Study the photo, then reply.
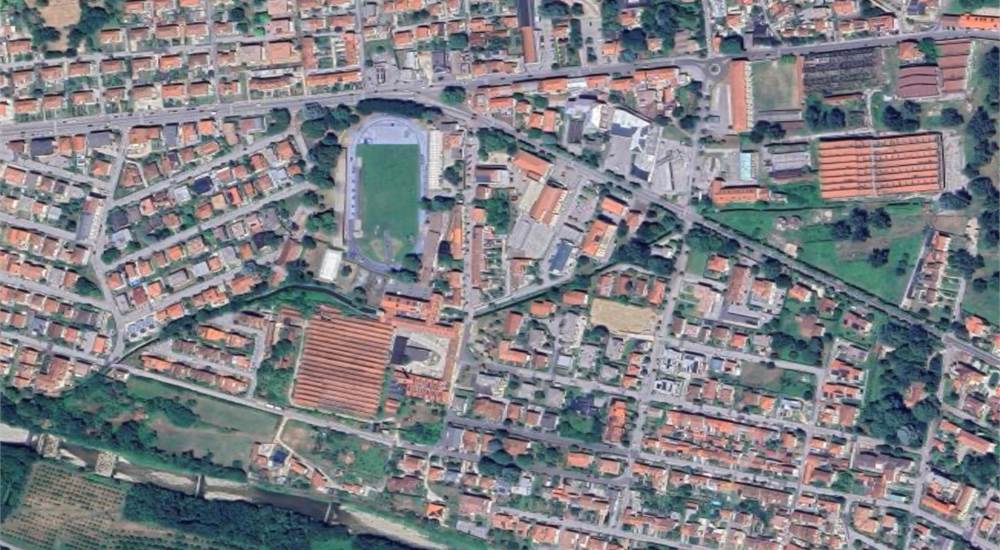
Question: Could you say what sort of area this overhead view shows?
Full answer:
This image shows a residential area.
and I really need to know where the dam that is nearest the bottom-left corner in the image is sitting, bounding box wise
[35,435,61,459]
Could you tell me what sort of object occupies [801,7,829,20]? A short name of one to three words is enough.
building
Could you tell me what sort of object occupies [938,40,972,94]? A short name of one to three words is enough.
shed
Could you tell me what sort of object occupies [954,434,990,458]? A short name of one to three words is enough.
house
